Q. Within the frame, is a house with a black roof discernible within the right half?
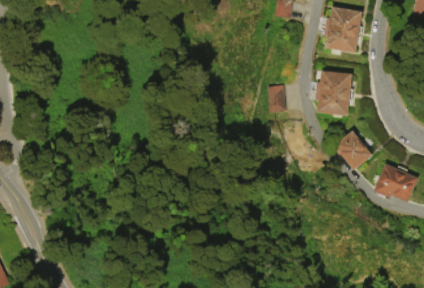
No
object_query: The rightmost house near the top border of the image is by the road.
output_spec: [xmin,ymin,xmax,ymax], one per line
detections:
[322,6,362,54]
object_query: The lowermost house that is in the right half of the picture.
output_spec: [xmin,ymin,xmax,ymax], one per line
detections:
[374,164,418,203]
